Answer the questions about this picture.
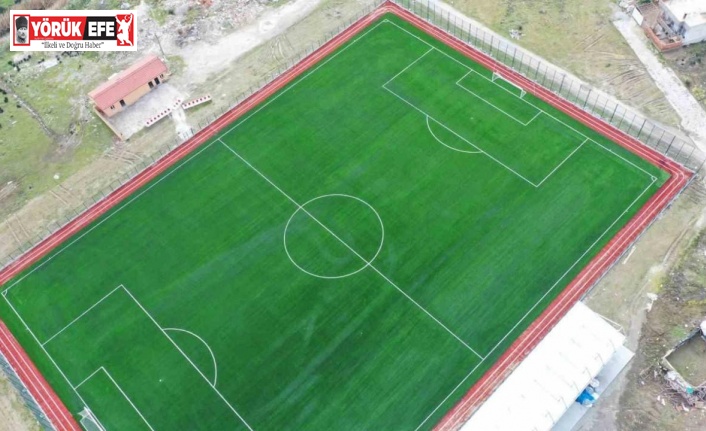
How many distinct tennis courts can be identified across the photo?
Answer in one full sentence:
There are no tennis courts in this view.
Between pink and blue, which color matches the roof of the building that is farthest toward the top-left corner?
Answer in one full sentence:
The roof of the building that is farthest toward the top-left corner looks pink in the image.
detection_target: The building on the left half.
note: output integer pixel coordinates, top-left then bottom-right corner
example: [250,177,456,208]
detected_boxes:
[88,57,170,117]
